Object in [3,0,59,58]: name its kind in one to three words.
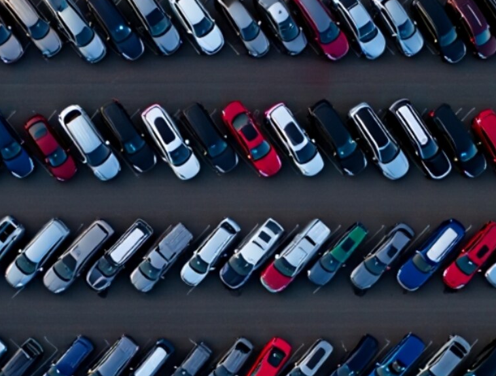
car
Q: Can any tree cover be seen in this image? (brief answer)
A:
No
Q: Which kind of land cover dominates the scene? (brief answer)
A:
paved ground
